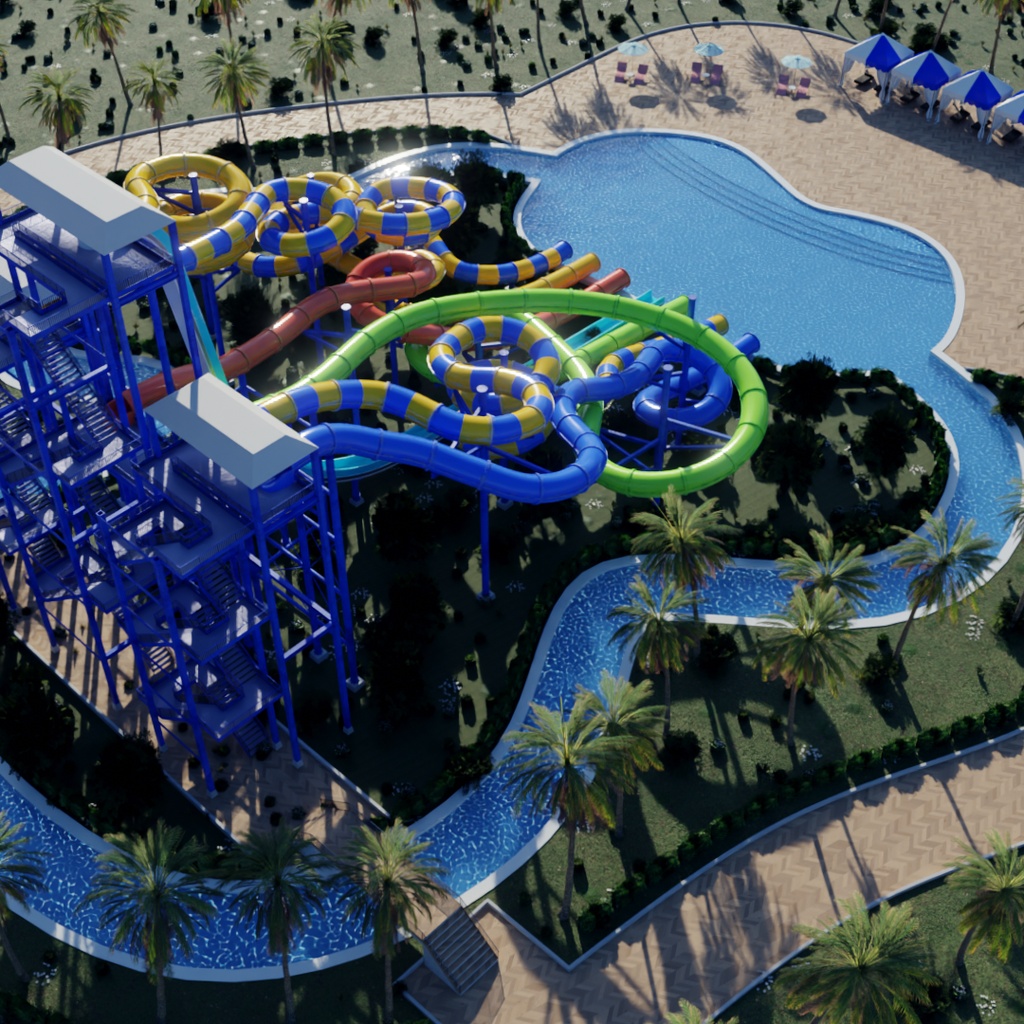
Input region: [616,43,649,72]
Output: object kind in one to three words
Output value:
umbrella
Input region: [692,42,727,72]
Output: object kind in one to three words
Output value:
umbrella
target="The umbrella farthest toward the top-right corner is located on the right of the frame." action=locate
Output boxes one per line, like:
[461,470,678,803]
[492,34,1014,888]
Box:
[781,55,814,85]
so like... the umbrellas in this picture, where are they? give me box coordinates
[616,43,649,72]
[692,42,727,72]
[781,55,814,85]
